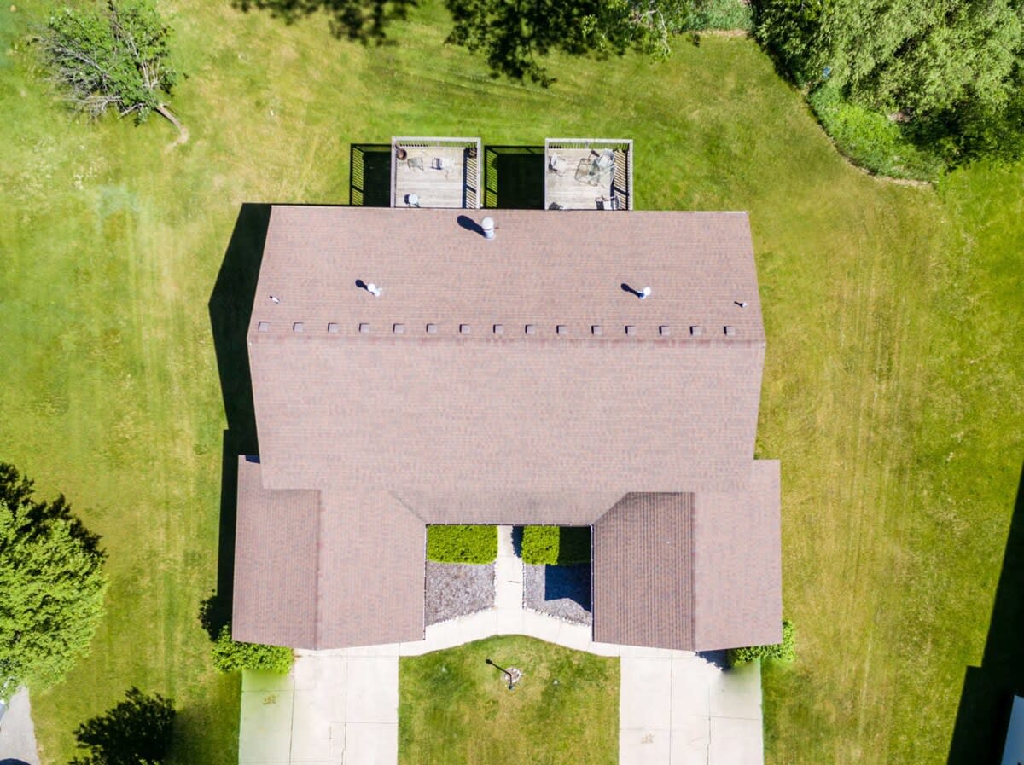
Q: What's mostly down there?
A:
grass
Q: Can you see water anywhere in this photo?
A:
No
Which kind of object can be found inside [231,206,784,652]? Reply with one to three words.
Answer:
house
